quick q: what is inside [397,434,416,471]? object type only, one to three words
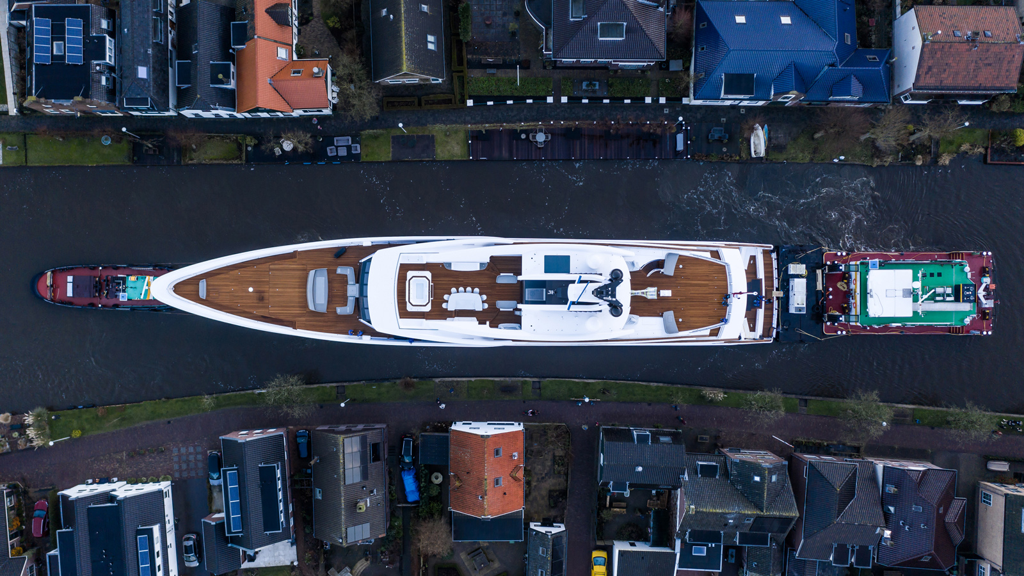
car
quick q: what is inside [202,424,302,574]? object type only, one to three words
house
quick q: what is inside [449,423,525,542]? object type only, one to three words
house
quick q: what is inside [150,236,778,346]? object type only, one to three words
boat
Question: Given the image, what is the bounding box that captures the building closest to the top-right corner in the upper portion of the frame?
[894,6,1024,101]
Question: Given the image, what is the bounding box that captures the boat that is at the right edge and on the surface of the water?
[821,251,1000,335]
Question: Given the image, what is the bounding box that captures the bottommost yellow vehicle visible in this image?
[590,547,610,576]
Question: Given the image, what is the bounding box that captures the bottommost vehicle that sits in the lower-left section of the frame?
[179,534,199,570]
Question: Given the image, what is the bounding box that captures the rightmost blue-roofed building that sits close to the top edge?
[687,0,893,110]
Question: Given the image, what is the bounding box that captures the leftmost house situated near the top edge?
[8,0,135,114]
